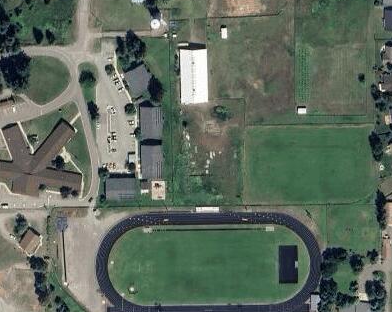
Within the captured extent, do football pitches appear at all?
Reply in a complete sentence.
Yes, a football pitch is visible in the scene.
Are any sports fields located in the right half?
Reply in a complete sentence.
Yes, a sports field is visible in the right half.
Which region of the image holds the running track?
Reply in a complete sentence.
The running track sits in the bottom section of the image.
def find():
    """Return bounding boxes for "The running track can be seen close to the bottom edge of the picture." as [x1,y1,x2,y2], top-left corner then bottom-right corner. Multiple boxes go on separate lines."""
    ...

[95,212,322,312]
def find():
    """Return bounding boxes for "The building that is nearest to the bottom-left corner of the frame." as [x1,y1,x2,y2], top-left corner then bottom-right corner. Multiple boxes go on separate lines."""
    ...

[17,228,44,254]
